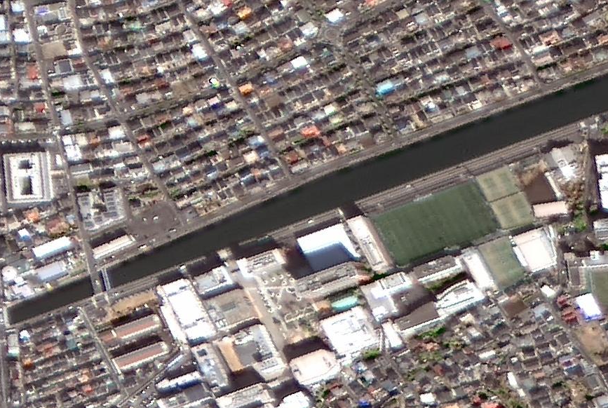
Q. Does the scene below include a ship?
No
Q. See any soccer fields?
Yes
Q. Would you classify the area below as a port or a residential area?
residential area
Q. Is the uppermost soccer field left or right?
right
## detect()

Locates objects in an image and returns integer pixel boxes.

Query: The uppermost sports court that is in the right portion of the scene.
[478,166,523,203]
